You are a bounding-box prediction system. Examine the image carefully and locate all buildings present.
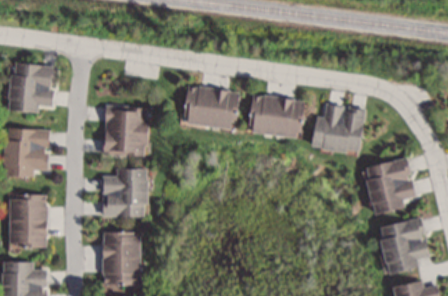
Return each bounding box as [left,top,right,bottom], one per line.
[2,262,47,296]
[8,62,53,112]
[5,128,50,178]
[103,168,150,218]
[105,107,149,156]
[380,219,430,274]
[8,194,47,256]
[180,84,241,132]
[103,232,141,292]
[312,102,367,158]
[363,158,415,215]
[250,94,305,141]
